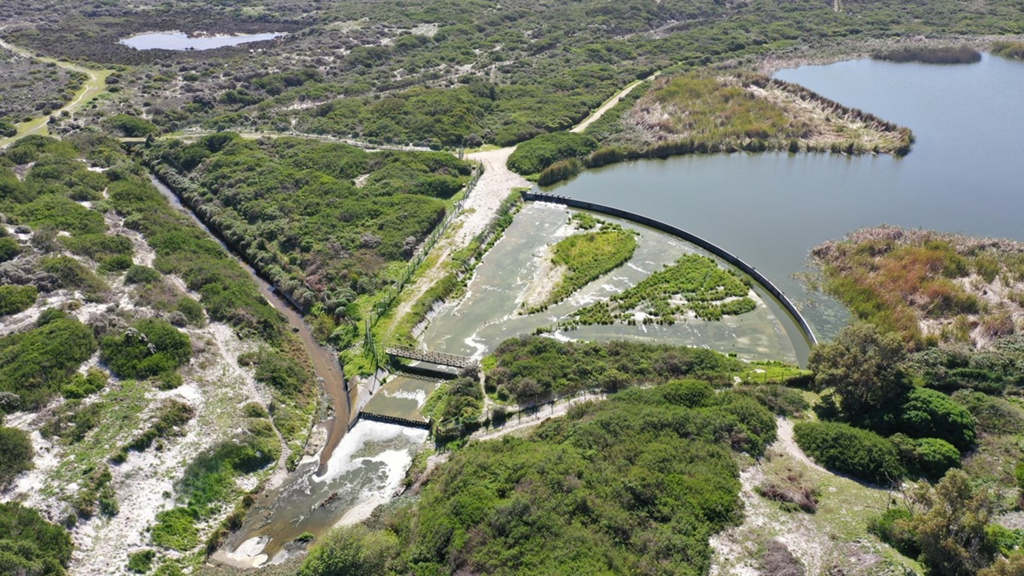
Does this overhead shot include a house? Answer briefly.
No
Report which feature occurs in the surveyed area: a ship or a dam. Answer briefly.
dam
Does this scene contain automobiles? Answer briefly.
No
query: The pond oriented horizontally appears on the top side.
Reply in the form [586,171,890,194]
[121,31,285,49]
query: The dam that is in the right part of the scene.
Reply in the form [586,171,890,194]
[510,193,828,371]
